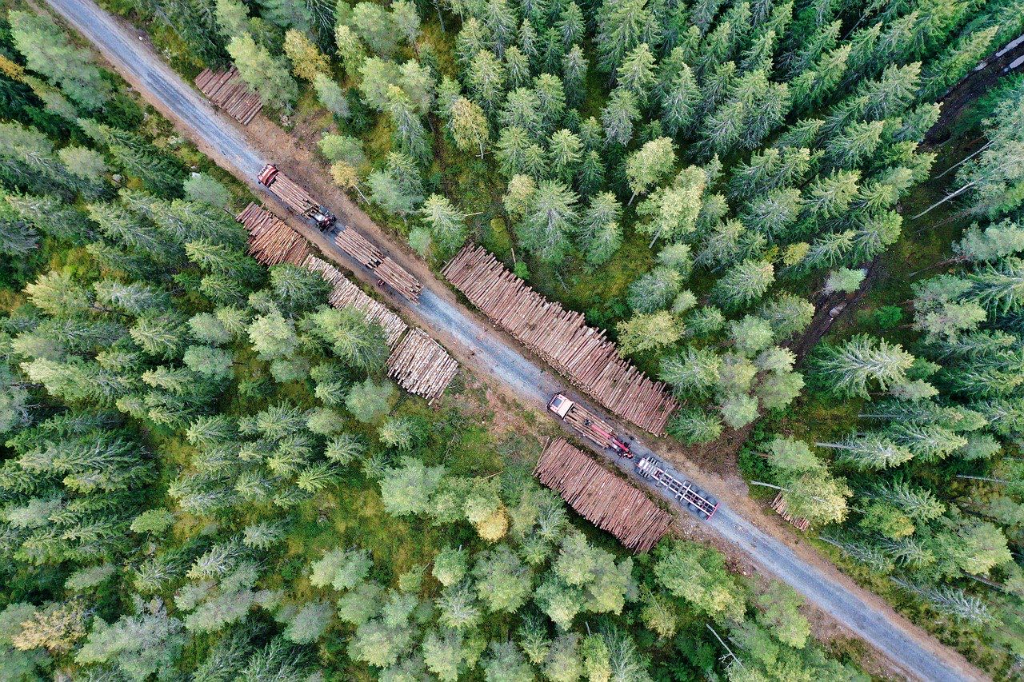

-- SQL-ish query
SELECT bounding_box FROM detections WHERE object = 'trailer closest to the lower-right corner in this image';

[630,457,726,526]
